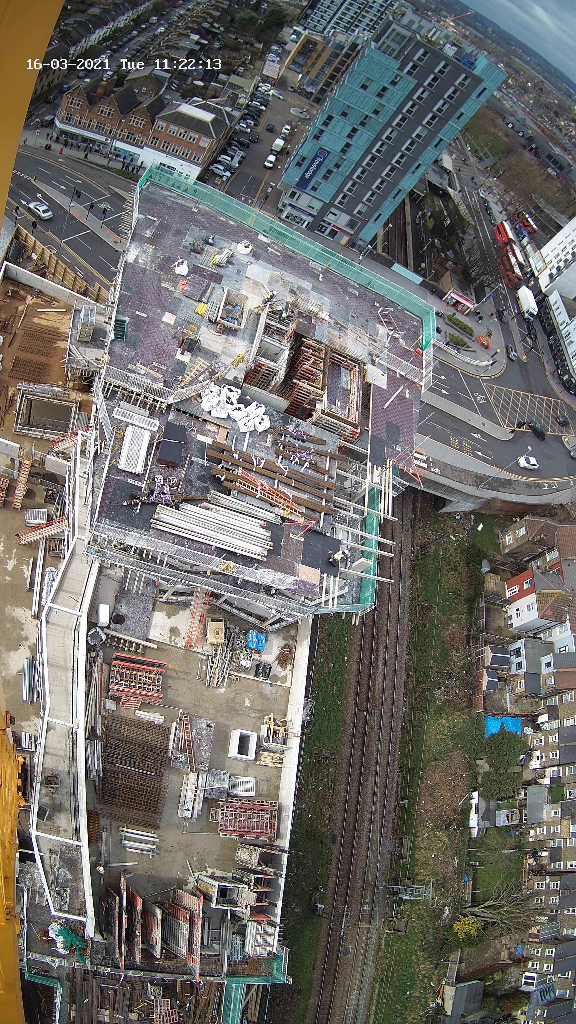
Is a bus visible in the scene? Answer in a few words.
Yes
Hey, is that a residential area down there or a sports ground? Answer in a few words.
residential area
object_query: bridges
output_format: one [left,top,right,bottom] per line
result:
[384,464,477,515]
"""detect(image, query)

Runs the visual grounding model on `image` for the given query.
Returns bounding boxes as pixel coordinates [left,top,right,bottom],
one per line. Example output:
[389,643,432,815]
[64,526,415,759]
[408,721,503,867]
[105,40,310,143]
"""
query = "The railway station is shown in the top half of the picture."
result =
[403,159,463,276]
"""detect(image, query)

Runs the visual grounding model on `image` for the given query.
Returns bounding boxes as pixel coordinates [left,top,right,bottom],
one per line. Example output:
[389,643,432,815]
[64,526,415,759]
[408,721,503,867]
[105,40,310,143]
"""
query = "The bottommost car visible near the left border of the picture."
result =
[24,199,58,218]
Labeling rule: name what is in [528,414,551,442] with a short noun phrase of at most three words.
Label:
car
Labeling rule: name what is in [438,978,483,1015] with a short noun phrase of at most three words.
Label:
shed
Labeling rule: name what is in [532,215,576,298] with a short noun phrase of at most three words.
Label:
building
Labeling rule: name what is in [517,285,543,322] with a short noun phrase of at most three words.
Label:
truck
